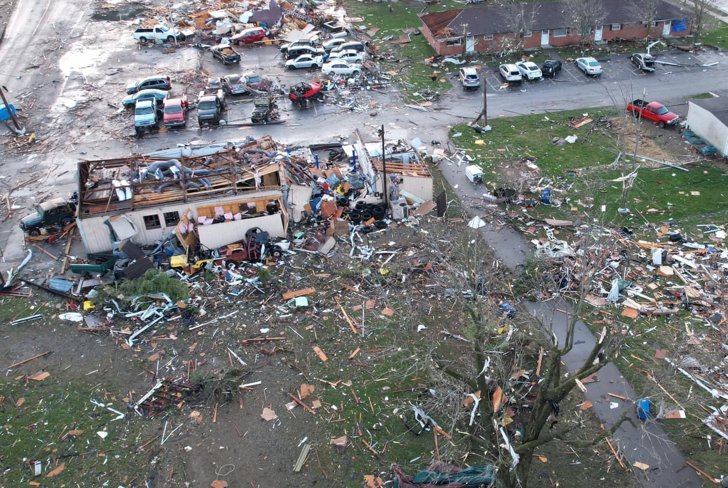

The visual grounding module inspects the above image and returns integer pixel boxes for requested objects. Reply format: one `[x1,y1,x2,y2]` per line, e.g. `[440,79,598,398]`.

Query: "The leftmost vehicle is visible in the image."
[22,190,76,230]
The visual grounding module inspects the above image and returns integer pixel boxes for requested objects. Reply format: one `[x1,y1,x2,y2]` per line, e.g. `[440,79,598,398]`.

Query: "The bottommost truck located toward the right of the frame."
[627,97,681,124]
